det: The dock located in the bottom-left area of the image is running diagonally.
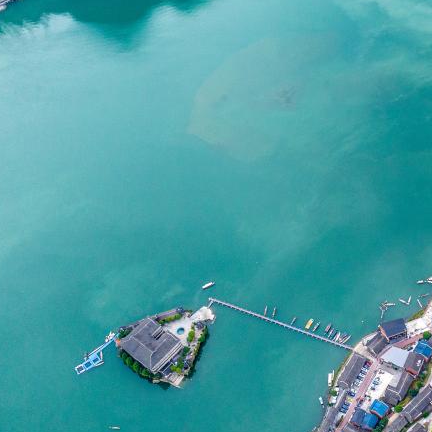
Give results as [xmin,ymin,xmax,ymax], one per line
[74,334,117,374]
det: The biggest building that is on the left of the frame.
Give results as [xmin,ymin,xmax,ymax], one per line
[121,318,185,375]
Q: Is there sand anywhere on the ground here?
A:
No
